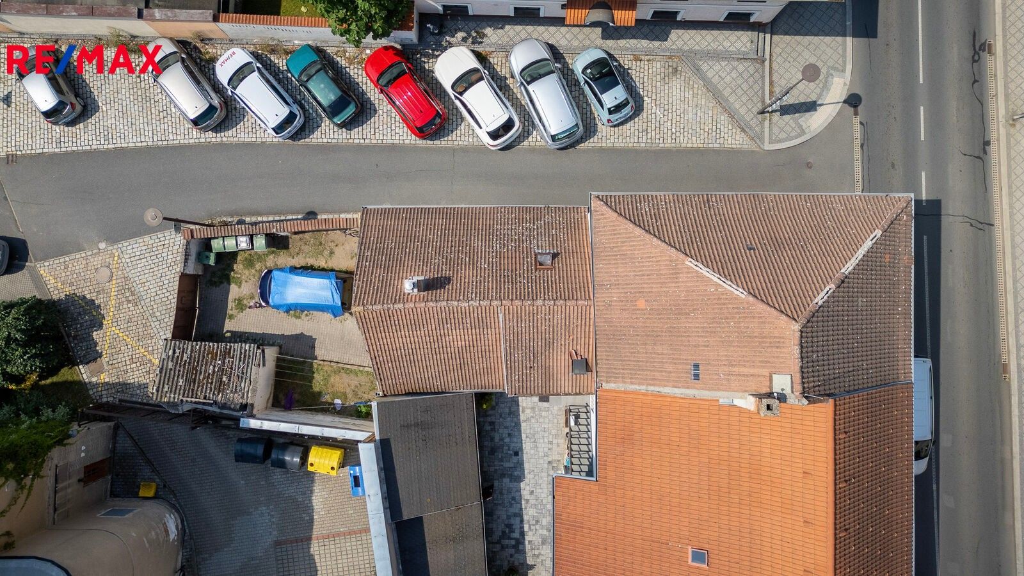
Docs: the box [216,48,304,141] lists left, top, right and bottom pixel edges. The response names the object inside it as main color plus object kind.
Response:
white car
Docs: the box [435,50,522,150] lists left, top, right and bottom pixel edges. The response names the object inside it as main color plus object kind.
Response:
white car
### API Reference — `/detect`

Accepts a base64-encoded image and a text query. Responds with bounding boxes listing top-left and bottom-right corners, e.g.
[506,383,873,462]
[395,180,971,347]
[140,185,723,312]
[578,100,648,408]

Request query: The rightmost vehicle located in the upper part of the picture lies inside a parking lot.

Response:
[571,49,636,127]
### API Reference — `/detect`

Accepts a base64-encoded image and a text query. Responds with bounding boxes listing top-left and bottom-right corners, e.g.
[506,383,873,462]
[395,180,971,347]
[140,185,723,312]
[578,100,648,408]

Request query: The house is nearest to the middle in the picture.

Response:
[351,203,596,398]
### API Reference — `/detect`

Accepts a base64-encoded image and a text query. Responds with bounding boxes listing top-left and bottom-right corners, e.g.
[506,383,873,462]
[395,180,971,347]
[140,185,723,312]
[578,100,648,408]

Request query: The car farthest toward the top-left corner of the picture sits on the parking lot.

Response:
[10,44,86,129]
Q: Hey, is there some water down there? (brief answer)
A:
No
